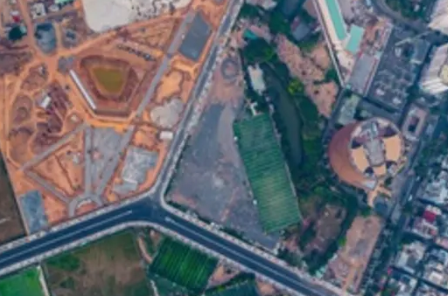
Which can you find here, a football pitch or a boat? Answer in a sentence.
It is a football pitch that can be seen here.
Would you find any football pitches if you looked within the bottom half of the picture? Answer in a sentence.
Yes, you'll find a football pitch within the bottom half of the picture.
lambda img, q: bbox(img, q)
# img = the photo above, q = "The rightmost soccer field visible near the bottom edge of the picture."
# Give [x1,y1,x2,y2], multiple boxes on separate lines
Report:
[151,237,217,292]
